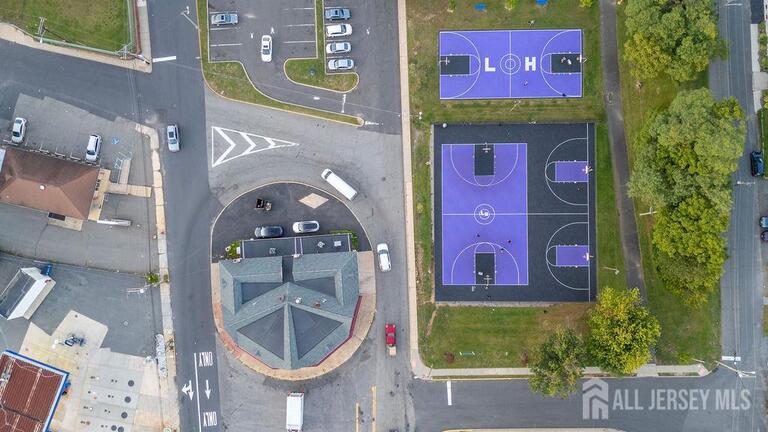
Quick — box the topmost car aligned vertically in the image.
[260,35,272,62]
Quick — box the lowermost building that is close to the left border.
[0,267,56,320]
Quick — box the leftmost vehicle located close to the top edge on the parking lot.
[212,12,239,26]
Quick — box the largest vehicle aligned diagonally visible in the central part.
[322,169,358,201]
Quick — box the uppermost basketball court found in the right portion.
[439,28,584,100]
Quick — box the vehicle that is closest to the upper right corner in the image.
[748,149,764,176]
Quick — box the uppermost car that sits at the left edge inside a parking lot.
[12,117,29,144]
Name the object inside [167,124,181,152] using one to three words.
vehicle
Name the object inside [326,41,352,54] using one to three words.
vehicle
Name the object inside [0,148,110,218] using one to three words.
building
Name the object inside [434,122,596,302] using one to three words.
basketball court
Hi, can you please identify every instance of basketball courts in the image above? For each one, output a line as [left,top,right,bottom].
[545,214,590,301]
[439,28,584,100]
[545,123,589,214]
[434,122,596,302]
